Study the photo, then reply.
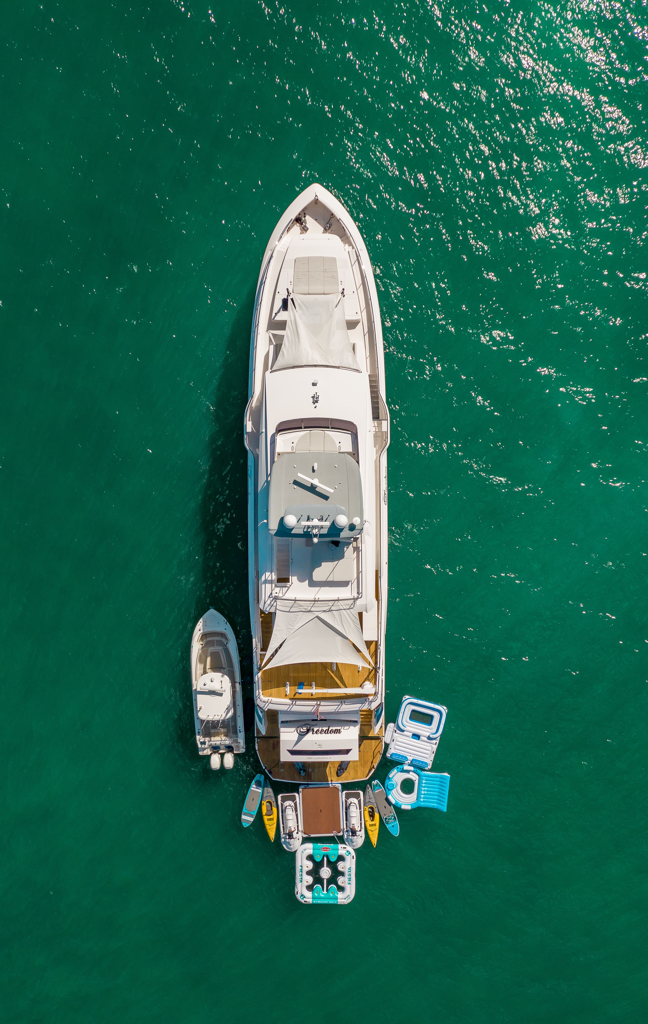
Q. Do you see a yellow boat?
Yes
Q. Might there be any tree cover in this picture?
No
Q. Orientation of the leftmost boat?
up and down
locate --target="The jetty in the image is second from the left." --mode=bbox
[299,782,343,837]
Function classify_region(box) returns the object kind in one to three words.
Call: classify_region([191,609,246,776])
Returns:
boat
